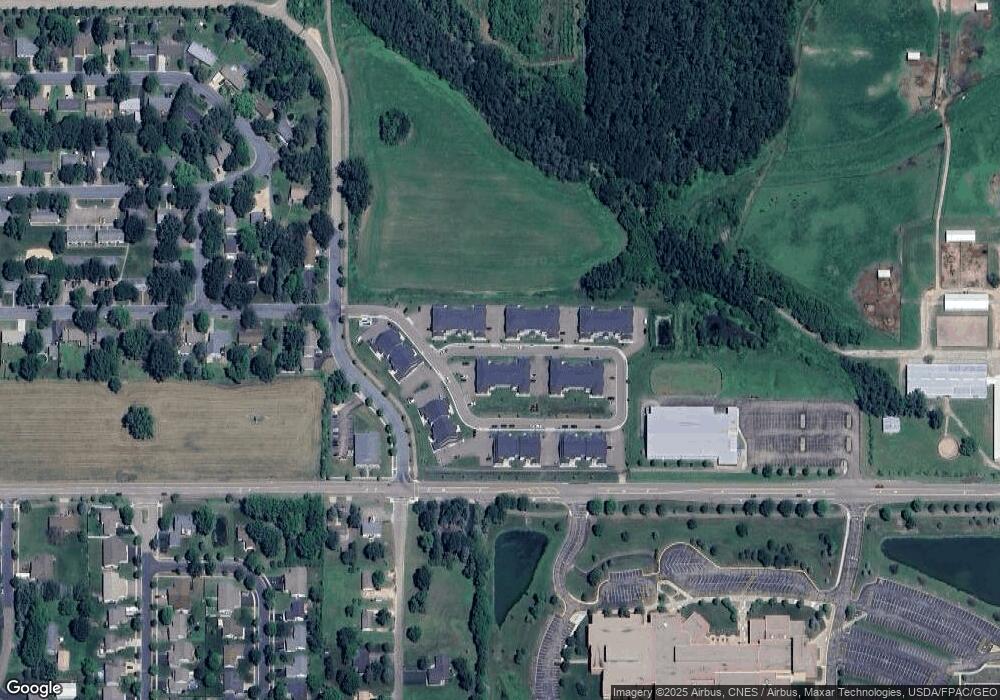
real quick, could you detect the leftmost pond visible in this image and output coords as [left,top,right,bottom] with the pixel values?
[495,530,548,625]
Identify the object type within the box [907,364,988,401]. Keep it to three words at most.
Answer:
building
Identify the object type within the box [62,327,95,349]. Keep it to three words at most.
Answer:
house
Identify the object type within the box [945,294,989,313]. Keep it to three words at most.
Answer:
barn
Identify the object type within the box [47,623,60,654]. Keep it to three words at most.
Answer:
shed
